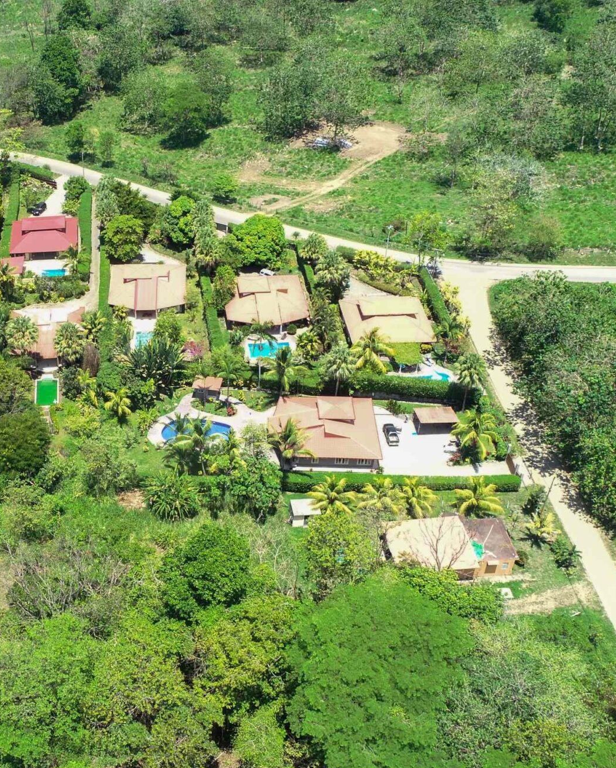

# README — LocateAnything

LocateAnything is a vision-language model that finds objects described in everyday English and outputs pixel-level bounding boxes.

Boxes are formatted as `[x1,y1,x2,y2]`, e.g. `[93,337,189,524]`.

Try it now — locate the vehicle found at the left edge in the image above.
[31,203,47,216]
